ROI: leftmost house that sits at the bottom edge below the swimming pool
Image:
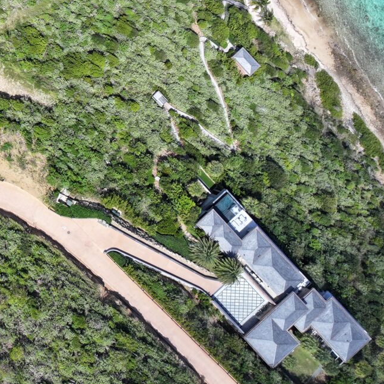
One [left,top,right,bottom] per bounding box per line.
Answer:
[240,292,307,367]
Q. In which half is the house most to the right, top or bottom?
bottom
